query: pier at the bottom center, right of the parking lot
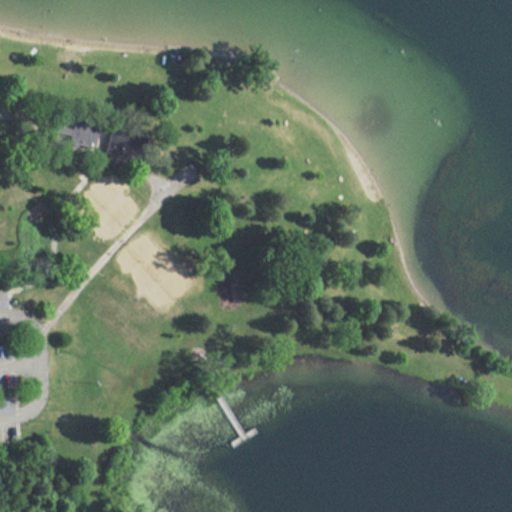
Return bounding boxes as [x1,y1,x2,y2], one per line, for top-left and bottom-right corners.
[218,398,256,445]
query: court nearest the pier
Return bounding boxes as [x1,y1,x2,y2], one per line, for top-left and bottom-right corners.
[118,236,196,310]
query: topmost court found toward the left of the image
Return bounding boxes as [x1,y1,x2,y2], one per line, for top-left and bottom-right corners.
[84,182,138,240]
